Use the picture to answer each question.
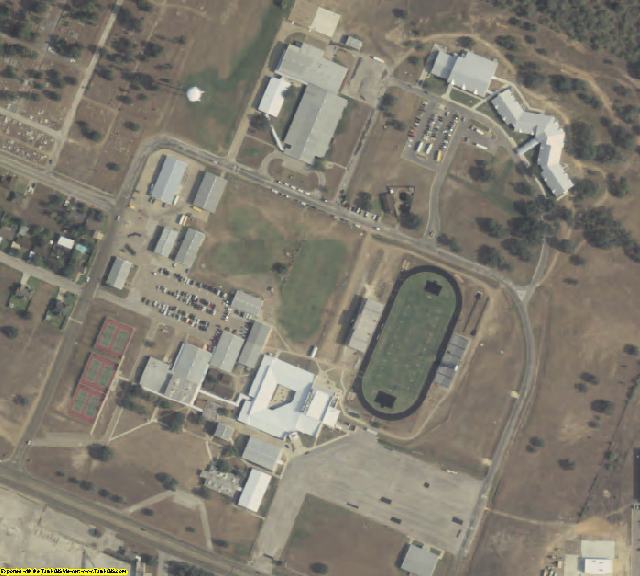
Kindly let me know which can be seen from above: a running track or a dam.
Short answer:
running track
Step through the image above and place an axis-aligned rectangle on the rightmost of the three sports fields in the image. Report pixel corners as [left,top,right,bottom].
[366,271,453,414]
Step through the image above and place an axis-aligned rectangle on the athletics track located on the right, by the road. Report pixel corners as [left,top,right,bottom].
[352,264,459,421]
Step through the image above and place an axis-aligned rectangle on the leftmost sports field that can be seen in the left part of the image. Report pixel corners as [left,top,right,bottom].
[204,204,286,275]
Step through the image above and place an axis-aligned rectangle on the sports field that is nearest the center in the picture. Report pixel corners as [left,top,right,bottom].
[281,237,346,343]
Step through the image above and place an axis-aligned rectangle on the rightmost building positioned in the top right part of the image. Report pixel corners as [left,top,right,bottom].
[492,88,574,197]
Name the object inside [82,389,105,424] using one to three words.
tennis court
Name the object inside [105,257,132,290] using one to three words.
building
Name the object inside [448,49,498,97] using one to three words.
building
